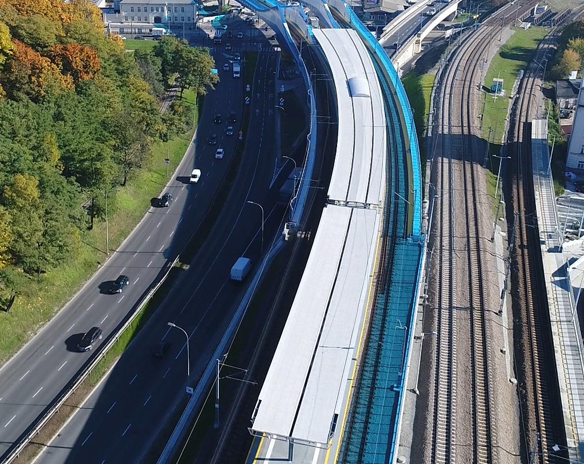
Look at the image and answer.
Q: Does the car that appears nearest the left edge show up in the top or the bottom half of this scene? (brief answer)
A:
bottom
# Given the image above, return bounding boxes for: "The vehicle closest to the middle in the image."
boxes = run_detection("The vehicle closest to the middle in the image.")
[228,259,248,282]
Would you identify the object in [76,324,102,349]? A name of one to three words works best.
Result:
car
